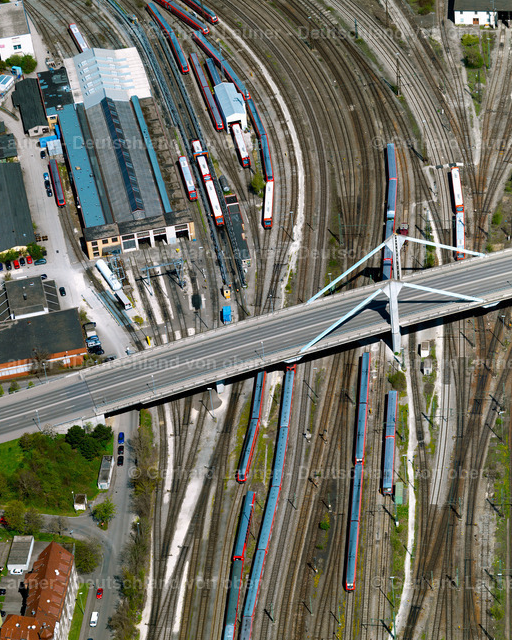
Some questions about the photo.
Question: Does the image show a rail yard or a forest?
rail yard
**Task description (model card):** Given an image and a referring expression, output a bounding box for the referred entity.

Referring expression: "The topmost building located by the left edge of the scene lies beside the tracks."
[0,0,33,60]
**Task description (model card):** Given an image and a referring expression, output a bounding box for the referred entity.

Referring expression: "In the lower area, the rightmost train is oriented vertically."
[383,389,396,500]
